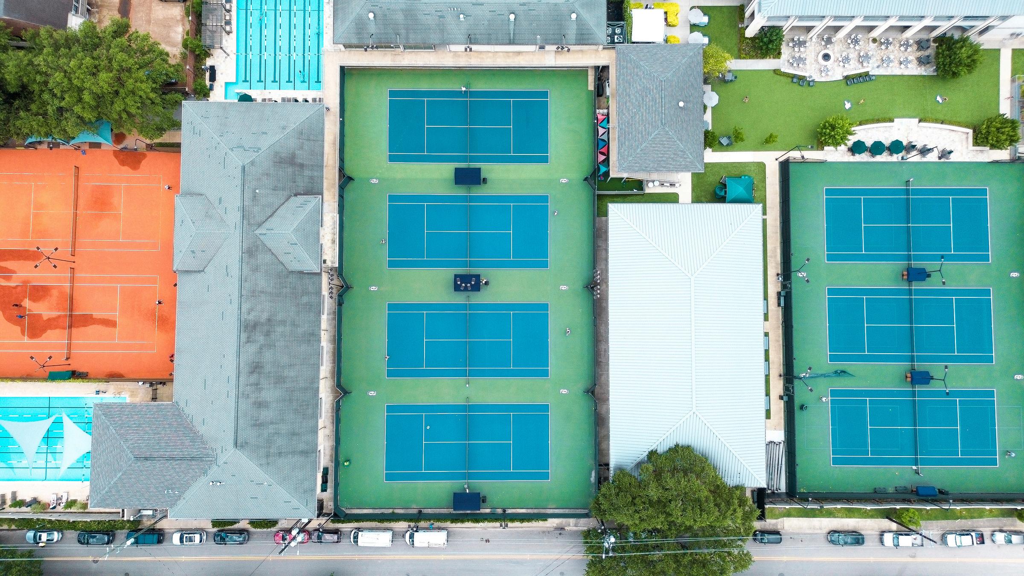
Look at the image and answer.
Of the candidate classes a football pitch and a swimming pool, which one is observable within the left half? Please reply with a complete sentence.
There is a swimming pool within the left half.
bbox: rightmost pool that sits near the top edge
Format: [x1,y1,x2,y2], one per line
[222,0,324,101]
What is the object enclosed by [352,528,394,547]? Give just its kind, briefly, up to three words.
vehicle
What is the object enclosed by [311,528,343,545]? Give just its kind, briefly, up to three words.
car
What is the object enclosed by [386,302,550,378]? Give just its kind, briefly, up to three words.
tennis court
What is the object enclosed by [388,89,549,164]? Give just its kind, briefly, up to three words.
tennis court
